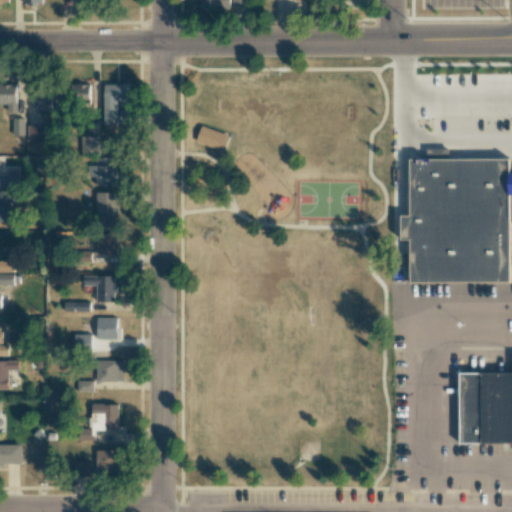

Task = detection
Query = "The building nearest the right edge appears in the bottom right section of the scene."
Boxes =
[460,372,512,444]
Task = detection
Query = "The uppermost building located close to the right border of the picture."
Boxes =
[400,150,512,282]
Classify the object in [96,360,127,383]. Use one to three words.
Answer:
house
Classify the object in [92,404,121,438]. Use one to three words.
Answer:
house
